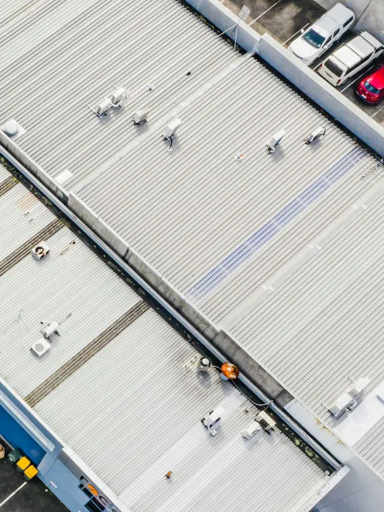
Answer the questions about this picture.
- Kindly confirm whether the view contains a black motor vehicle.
No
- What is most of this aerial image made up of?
buildings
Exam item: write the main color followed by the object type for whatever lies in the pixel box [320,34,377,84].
white van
